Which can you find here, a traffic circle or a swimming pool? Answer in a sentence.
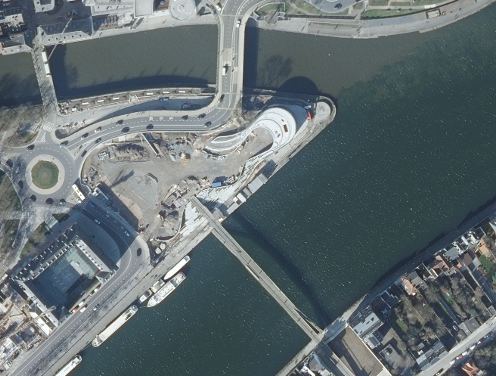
I can see a traffic circle in this picture.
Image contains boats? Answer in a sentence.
Yes, the image includes a boat.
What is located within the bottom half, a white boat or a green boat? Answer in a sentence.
Looking within the bottom half, you will find a white boat.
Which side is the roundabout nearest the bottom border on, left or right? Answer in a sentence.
The roundabout nearest the bottom border appears in the left half of the scene.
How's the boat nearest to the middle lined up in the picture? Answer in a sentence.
The boat nearest to the middle is oriented diagonally.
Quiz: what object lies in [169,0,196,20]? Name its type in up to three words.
building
